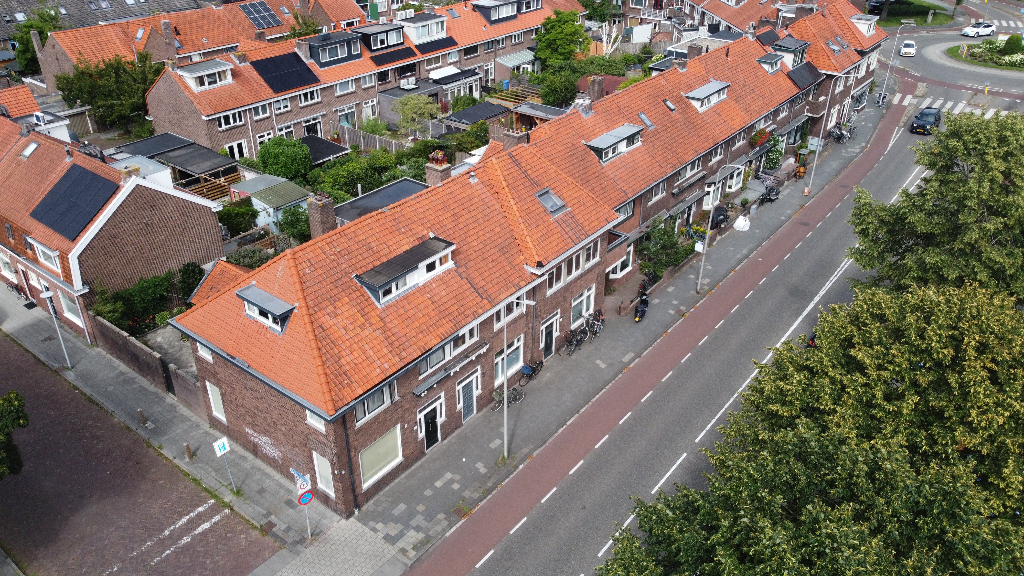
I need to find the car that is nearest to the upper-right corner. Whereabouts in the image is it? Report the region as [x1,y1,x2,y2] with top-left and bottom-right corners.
[964,22,1001,37]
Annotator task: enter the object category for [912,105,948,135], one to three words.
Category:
car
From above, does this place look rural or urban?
urban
